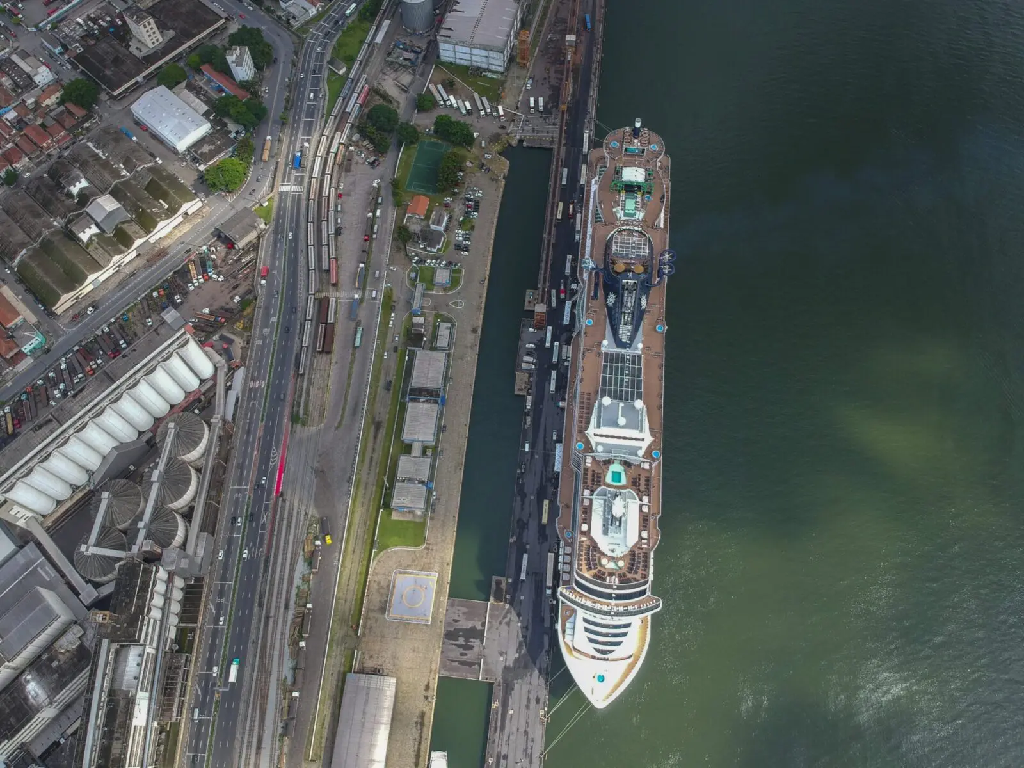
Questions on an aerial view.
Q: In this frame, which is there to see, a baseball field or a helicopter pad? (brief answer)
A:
helicopter pad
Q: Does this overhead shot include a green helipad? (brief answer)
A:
No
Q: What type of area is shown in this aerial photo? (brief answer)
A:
port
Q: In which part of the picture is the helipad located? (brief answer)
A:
bottom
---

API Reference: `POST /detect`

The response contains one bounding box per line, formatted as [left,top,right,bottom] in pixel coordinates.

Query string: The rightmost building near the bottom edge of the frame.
[332,673,399,768]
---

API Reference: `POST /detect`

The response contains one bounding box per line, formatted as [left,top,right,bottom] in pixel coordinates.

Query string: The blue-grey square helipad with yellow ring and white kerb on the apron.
[386,569,438,624]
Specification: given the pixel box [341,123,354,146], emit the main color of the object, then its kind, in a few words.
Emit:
gray rail car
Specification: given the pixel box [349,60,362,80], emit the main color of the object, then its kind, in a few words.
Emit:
gray rail car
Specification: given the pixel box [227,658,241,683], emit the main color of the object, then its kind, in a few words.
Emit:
white vehicle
